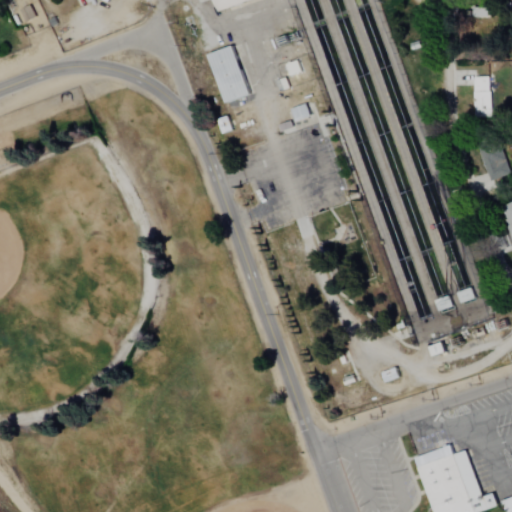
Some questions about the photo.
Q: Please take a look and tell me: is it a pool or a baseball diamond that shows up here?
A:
baseball diamond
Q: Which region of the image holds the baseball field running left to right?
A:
bottom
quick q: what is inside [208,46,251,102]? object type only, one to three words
building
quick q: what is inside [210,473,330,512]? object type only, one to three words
baseball field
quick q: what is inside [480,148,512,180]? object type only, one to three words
house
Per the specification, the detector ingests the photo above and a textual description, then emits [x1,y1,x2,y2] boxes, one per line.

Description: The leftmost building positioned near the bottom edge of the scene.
[415,444,502,512]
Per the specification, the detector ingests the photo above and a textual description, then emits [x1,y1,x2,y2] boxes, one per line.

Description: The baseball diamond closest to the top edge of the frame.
[0,209,24,299]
